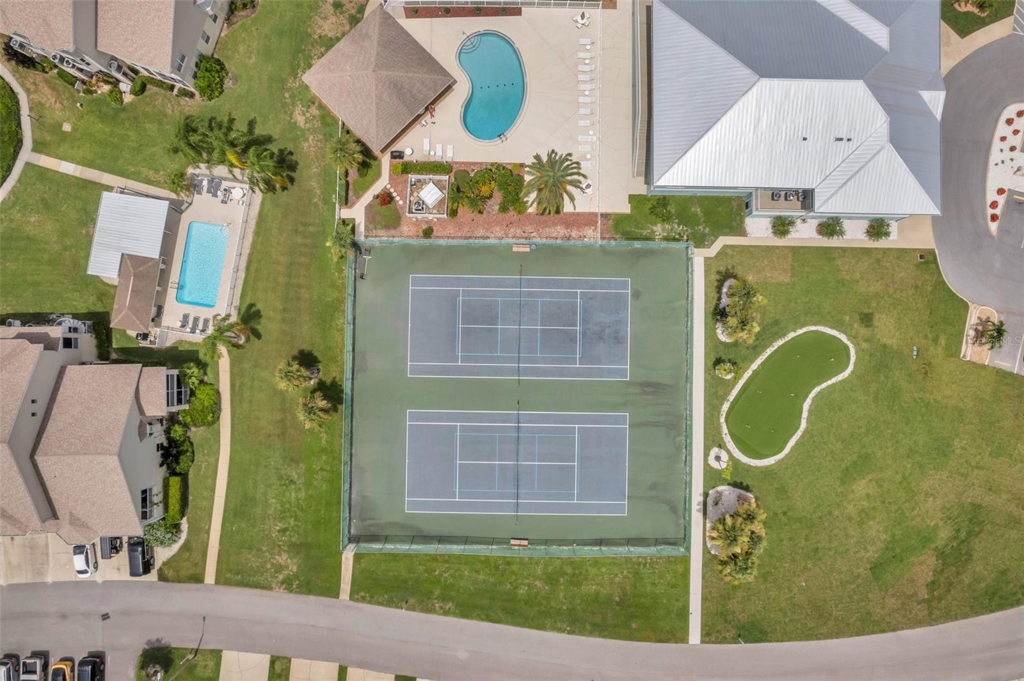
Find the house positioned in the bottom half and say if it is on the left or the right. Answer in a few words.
left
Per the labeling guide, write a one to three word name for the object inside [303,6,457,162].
building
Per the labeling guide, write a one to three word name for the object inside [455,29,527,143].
swimming pool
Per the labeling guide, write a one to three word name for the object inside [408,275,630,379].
tennis court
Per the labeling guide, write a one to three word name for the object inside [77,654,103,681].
car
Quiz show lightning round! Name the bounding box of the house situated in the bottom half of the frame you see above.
[0,318,188,544]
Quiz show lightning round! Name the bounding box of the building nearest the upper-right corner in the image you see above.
[631,0,952,220]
